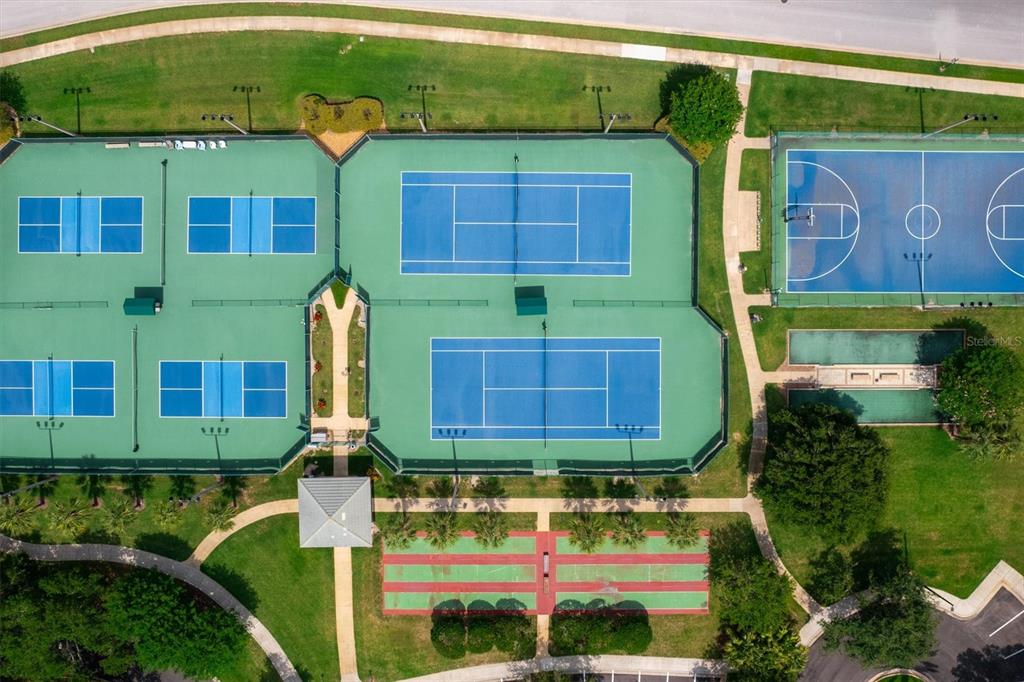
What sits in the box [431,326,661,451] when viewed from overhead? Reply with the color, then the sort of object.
blue tennis court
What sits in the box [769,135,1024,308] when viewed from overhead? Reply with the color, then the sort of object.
blue basketball court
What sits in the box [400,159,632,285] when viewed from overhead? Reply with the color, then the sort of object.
blue tennis court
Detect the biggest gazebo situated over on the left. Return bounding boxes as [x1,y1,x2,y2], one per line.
[298,474,373,548]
